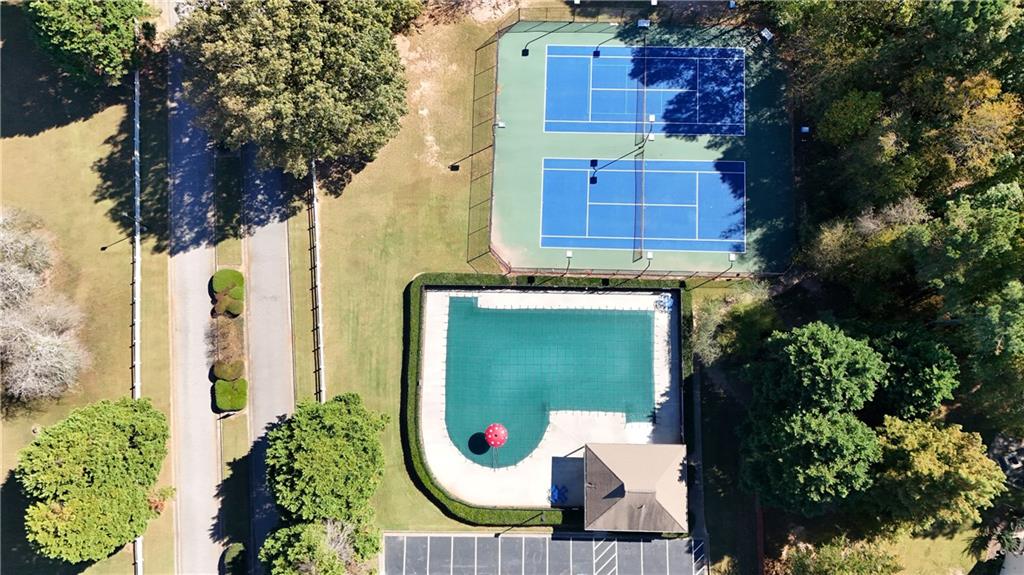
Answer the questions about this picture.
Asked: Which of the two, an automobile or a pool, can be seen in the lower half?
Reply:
pool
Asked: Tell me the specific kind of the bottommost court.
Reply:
tennis court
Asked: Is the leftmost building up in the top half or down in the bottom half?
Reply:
bottom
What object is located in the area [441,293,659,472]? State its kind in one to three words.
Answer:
swimming pool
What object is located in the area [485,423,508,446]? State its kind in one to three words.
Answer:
fountain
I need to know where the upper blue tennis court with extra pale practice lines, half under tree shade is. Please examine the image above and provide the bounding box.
[544,34,745,142]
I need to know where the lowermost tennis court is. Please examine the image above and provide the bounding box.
[540,148,746,258]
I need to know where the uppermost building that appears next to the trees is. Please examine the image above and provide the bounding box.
[585,442,690,533]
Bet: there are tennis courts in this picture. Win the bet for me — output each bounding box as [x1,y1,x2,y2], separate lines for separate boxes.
[540,148,746,258]
[544,34,745,142]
